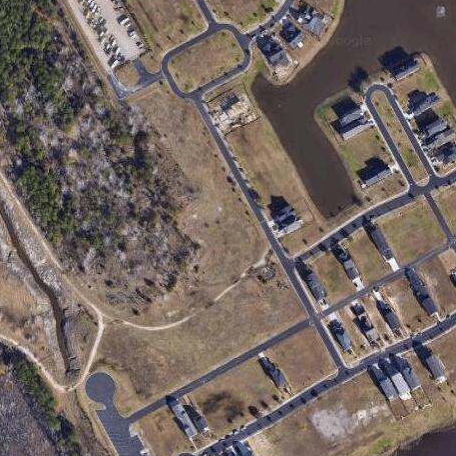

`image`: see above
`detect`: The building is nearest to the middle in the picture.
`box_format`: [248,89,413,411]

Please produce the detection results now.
[275,209,308,232]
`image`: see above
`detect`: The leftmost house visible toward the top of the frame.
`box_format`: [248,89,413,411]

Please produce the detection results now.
[218,90,247,122]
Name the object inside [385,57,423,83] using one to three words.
house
